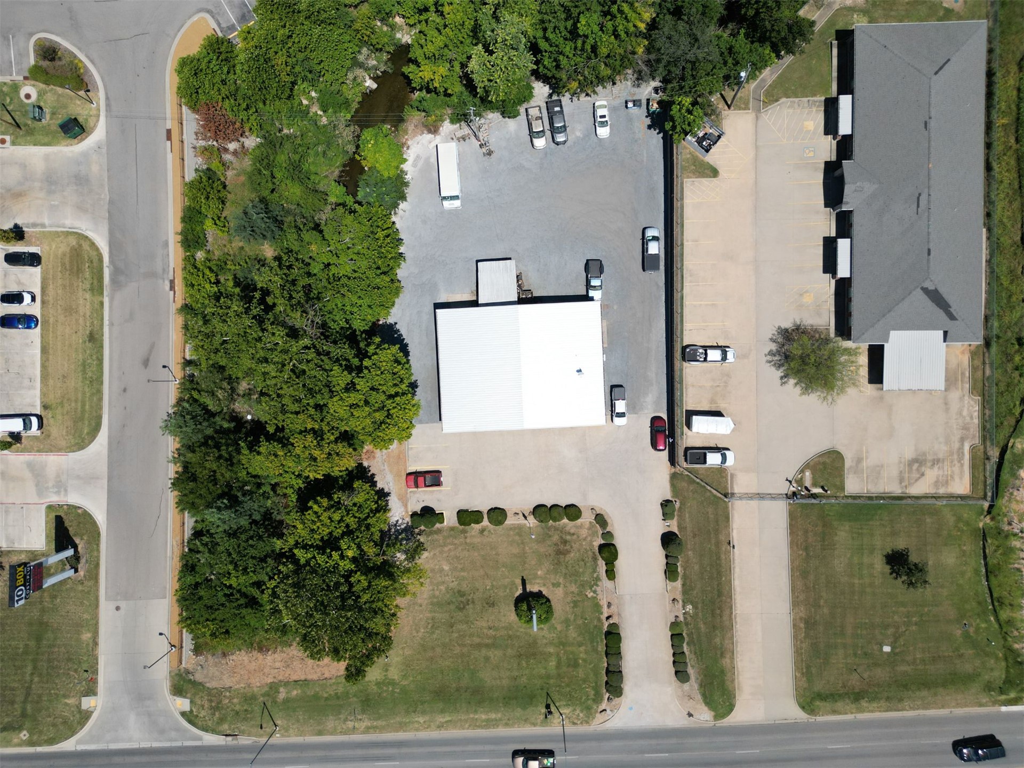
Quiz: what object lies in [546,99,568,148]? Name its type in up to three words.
truck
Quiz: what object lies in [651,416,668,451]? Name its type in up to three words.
car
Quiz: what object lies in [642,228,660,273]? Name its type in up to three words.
vehicle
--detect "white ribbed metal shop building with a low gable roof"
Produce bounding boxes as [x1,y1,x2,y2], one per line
[436,260,607,432]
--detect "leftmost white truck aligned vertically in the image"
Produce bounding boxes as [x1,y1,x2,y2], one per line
[438,141,463,212]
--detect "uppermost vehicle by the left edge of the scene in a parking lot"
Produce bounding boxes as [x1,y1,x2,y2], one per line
[4,251,45,268]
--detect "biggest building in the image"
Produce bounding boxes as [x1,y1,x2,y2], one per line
[828,20,988,344]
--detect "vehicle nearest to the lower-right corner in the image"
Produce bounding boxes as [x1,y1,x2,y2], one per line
[955,735,1004,759]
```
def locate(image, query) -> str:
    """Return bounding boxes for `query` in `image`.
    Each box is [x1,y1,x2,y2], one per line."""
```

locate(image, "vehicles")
[593,101,611,140]
[0,415,47,432]
[955,735,1004,759]
[610,384,626,426]
[438,141,463,212]
[546,99,568,148]
[512,755,556,768]
[2,290,39,307]
[684,345,733,363]
[642,228,660,273]
[651,416,668,451]
[585,259,603,301]
[3,314,42,330]
[526,106,545,151]
[4,251,45,268]
[686,448,732,466]
[407,472,444,488]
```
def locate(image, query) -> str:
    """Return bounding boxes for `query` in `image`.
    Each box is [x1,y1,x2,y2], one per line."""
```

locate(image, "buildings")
[828,20,988,344]
[436,260,607,432]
